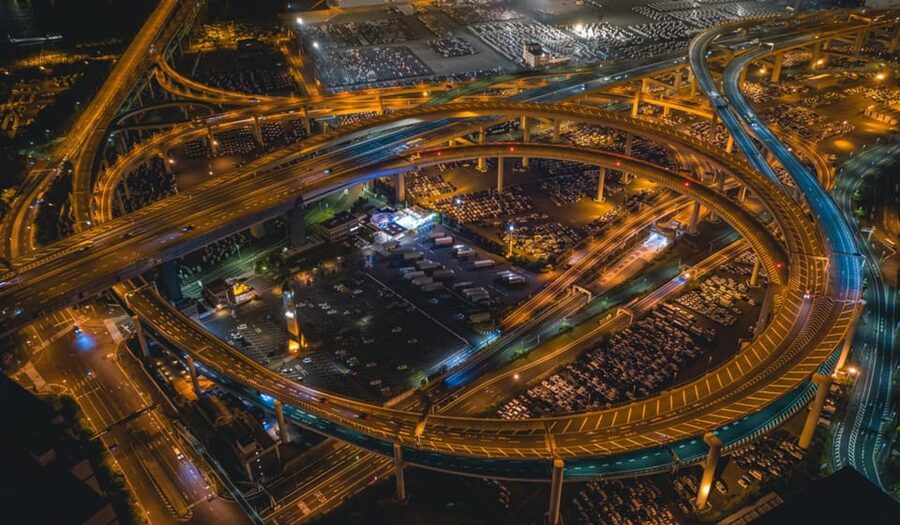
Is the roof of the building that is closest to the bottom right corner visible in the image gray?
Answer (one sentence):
No, the roof of the building that is closest to the bottom right corner is actually black.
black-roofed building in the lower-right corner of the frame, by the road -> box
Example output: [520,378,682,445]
[765,467,900,525]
